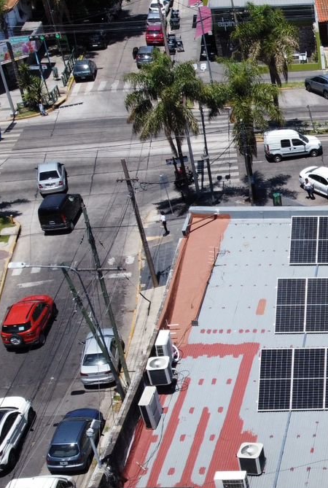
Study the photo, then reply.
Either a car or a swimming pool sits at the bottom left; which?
car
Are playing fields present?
No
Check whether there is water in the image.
No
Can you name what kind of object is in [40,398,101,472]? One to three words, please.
car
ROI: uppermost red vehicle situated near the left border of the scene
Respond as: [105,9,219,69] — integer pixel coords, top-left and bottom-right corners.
[0,291,57,351]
